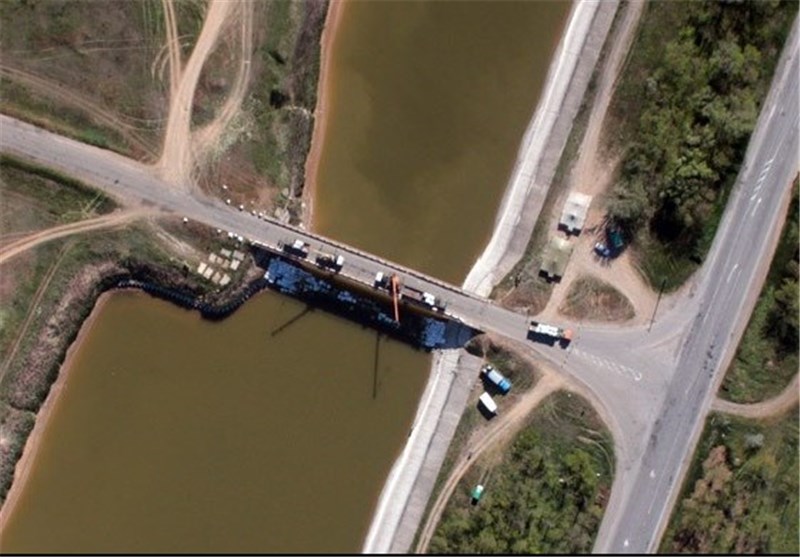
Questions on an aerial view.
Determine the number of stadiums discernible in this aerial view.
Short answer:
0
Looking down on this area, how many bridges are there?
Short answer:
1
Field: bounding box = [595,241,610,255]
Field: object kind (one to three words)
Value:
car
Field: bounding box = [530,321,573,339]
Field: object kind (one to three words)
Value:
vehicle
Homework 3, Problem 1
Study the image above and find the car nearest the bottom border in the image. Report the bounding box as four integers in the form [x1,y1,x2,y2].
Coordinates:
[472,484,484,502]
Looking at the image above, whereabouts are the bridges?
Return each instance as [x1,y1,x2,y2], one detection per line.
[256,215,488,326]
